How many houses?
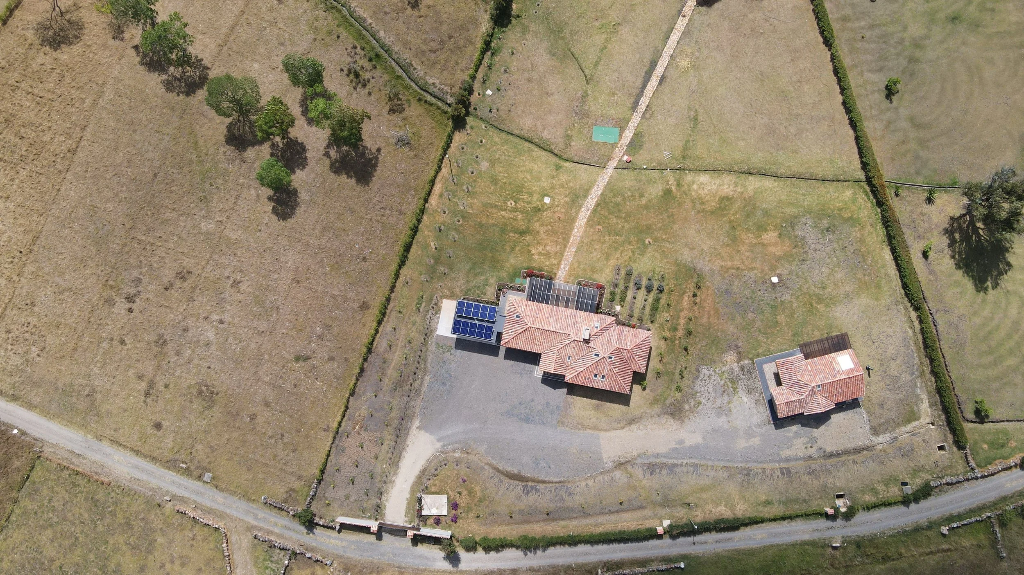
two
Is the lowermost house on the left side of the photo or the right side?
right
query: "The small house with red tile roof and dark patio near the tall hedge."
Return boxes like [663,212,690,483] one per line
[770,348,866,419]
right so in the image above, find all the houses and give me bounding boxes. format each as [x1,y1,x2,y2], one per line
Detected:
[770,348,866,419]
[500,298,653,395]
